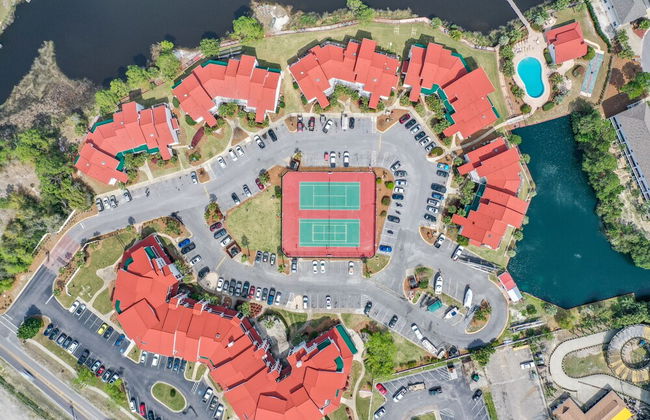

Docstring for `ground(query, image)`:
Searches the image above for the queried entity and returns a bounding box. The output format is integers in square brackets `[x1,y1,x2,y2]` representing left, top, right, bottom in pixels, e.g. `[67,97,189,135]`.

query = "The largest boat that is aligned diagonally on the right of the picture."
[444,305,461,320]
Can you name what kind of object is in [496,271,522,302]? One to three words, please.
shed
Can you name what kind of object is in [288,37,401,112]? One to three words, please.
building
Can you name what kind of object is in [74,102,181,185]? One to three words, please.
building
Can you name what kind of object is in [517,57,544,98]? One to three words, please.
swimming pool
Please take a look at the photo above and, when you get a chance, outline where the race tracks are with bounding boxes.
[550,324,650,404]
